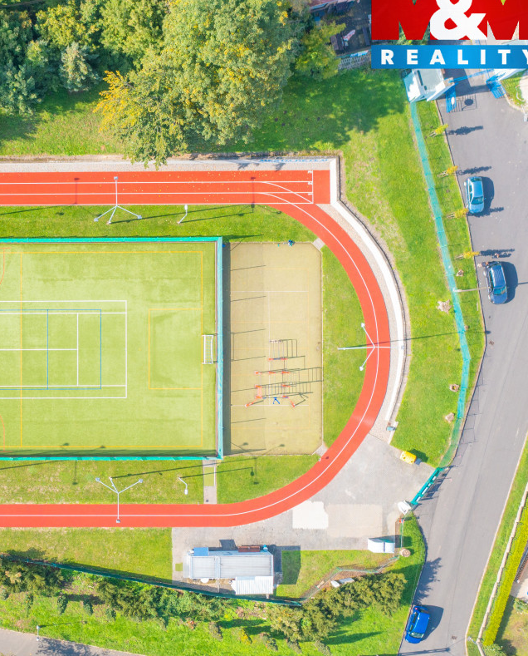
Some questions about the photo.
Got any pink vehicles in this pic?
No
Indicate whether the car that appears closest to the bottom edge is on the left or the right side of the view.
right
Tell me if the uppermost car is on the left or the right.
right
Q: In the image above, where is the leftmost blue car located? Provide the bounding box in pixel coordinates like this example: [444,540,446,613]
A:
[403,605,430,642]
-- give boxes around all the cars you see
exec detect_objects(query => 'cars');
[403,605,430,642]
[464,175,486,215]
[482,262,508,305]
